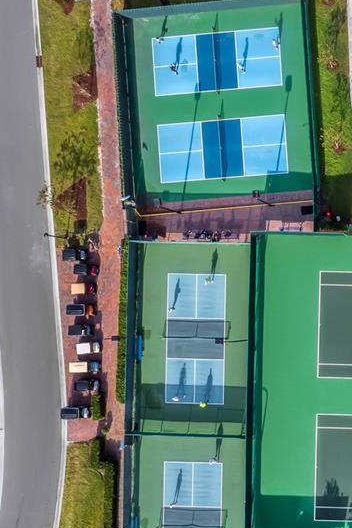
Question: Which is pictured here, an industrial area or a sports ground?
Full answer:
The picture captures a sports ground.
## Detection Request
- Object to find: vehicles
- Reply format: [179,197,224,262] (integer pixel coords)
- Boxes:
[66,304,94,316]
[73,263,100,276]
[70,283,97,295]
[69,360,97,373]
[74,377,101,391]
[62,248,88,261]
[68,325,95,337]
[76,342,102,355]
[61,405,88,418]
